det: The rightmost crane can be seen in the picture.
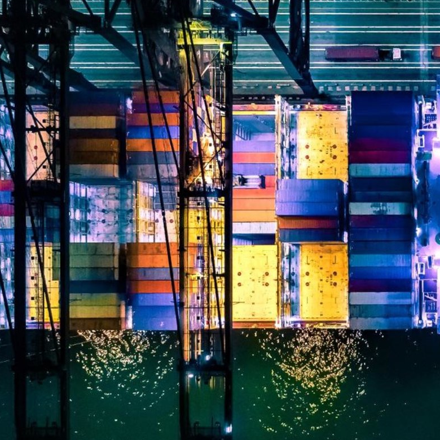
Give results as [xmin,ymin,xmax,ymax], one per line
[103,0,330,440]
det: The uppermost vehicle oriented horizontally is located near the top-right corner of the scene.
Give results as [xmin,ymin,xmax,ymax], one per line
[326,48,403,63]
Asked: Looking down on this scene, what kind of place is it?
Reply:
port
